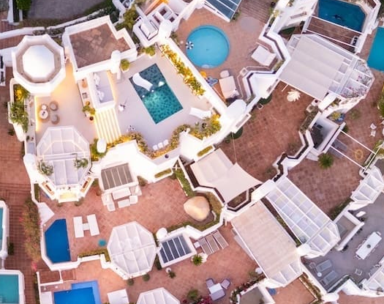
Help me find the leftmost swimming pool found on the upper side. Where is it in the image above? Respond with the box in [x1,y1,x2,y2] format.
[128,62,184,126]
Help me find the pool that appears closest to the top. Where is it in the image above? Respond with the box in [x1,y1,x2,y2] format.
[315,0,367,33]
